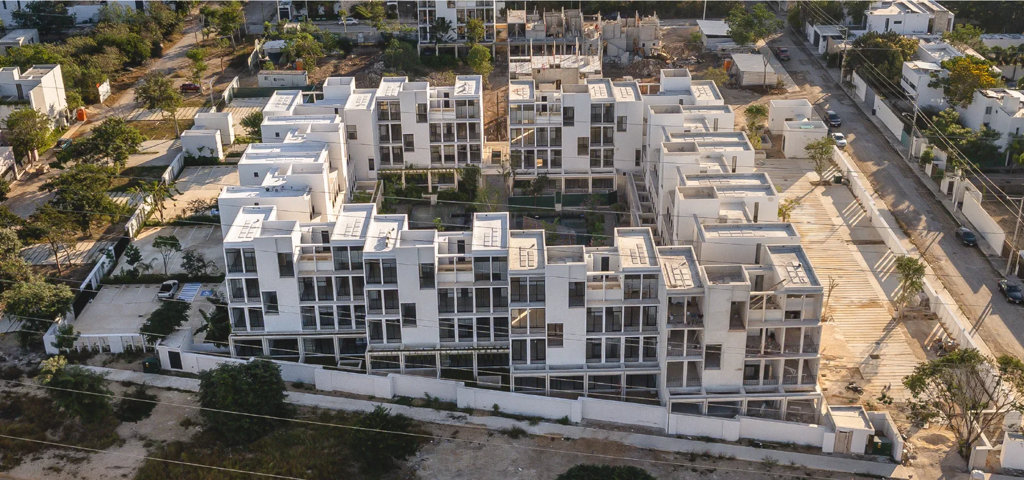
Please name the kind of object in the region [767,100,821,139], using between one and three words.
building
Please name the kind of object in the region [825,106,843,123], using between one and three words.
car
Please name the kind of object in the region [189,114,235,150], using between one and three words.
building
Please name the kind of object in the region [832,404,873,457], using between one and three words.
shed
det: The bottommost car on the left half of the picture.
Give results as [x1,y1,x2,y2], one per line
[152,279,183,298]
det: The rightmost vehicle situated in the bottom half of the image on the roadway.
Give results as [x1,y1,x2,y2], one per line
[1000,277,1024,299]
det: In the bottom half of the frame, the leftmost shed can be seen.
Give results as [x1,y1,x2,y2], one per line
[157,326,193,367]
